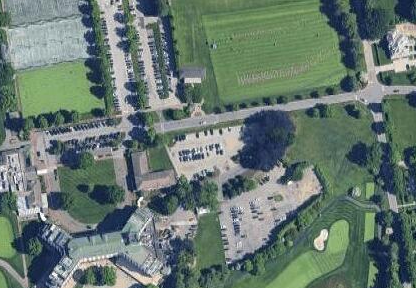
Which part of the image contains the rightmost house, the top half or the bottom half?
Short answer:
top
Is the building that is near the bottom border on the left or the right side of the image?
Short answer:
left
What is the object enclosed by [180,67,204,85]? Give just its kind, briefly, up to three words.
building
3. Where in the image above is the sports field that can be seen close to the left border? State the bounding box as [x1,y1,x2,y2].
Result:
[16,61,104,117]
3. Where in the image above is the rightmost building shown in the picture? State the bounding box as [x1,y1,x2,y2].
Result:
[388,28,416,63]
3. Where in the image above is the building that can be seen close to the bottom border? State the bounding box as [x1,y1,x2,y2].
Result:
[40,204,166,288]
